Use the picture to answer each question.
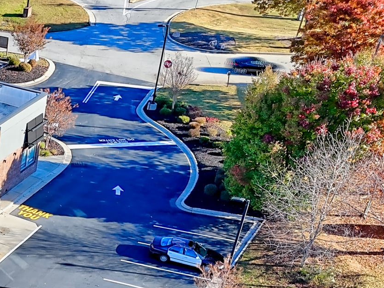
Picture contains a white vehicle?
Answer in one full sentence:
No, I can't see a single white vehicle in this photo.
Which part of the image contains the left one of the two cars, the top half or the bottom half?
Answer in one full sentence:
It is in the bottom half that the left one of the two cars appears.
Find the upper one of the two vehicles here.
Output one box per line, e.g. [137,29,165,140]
[229,56,271,75]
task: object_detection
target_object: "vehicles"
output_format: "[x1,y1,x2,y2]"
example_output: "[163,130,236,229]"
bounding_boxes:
[150,234,227,271]
[229,56,271,75]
